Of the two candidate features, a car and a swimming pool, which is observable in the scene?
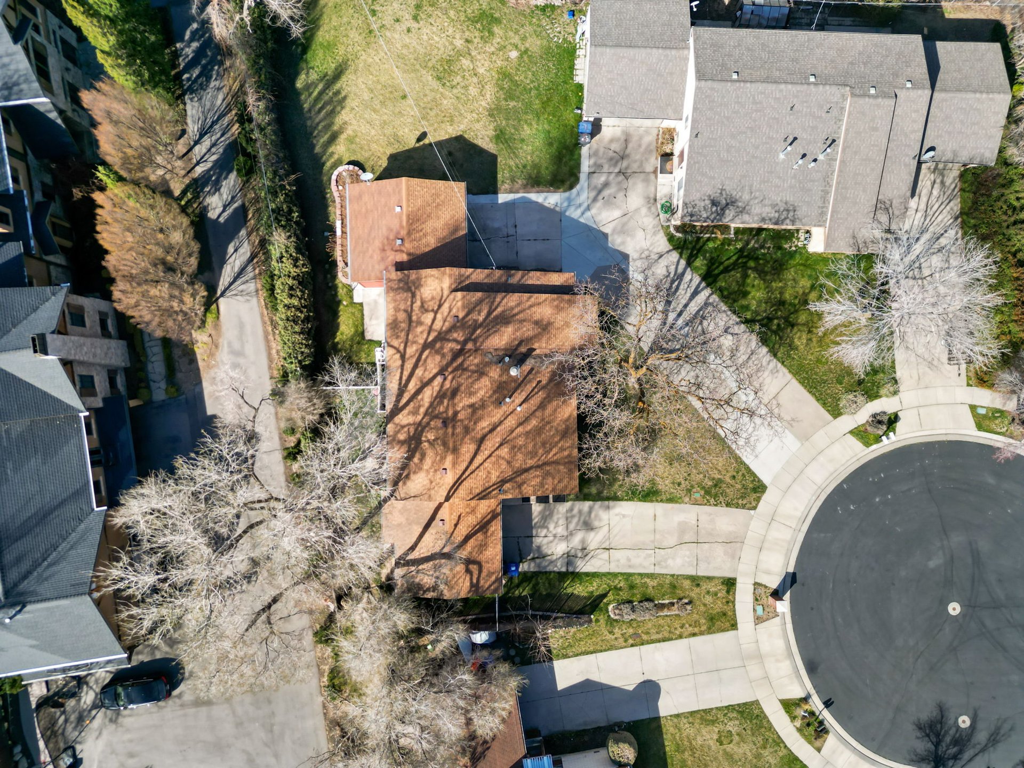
car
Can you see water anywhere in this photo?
No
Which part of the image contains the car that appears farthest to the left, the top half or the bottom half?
bottom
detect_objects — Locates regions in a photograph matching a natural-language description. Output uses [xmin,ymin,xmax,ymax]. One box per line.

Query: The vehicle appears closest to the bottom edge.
[94,679,167,720]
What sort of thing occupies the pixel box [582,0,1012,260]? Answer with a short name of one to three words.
house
